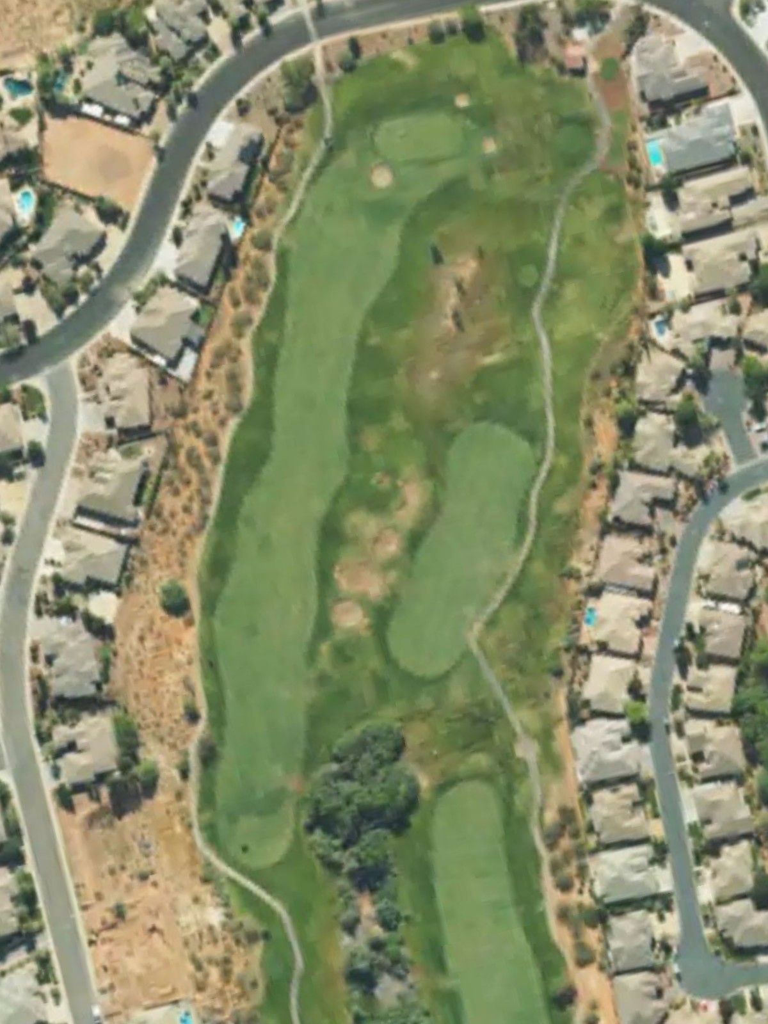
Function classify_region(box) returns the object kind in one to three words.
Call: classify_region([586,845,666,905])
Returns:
house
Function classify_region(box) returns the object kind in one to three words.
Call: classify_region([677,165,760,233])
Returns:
house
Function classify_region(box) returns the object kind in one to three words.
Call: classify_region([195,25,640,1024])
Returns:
golf course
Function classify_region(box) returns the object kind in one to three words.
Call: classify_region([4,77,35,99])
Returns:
swimming pool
